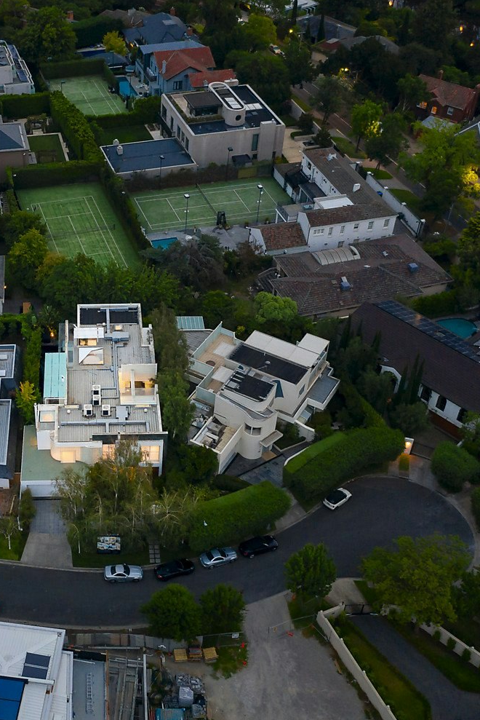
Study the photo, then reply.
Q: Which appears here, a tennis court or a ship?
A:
tennis court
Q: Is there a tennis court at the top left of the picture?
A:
Yes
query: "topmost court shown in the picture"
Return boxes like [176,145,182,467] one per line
[52,80,123,117]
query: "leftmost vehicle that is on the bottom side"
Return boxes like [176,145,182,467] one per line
[104,563,142,582]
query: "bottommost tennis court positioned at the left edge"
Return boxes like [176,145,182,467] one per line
[22,189,140,278]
